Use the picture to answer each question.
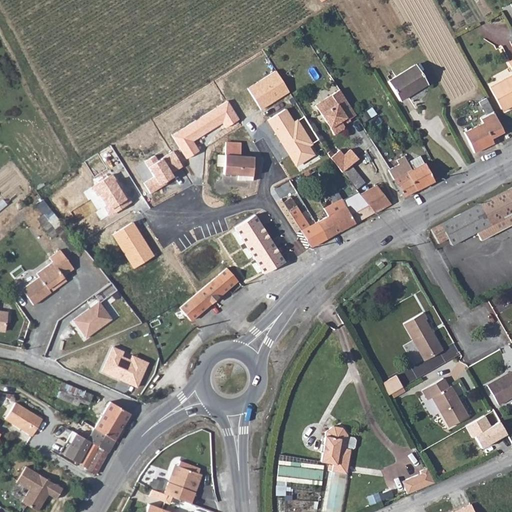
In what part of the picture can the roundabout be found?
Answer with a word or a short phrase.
bottom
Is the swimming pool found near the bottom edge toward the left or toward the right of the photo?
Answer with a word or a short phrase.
right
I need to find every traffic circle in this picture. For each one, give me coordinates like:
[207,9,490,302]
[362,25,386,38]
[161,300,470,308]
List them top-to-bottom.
[196,343,265,412]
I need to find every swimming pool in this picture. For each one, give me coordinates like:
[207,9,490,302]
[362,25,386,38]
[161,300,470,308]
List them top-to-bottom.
[308,66,320,80]
[10,266,24,280]
[322,472,348,512]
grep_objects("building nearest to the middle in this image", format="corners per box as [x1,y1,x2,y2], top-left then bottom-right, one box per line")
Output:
[233,215,286,275]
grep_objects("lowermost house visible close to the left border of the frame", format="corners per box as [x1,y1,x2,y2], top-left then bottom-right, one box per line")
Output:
[17,468,62,511]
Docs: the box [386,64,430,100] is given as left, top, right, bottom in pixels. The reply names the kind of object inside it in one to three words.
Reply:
house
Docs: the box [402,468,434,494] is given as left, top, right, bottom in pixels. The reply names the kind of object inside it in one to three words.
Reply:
building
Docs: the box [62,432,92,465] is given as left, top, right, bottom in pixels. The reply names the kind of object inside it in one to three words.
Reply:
barn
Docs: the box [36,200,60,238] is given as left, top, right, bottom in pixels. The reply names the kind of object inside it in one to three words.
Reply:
shed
